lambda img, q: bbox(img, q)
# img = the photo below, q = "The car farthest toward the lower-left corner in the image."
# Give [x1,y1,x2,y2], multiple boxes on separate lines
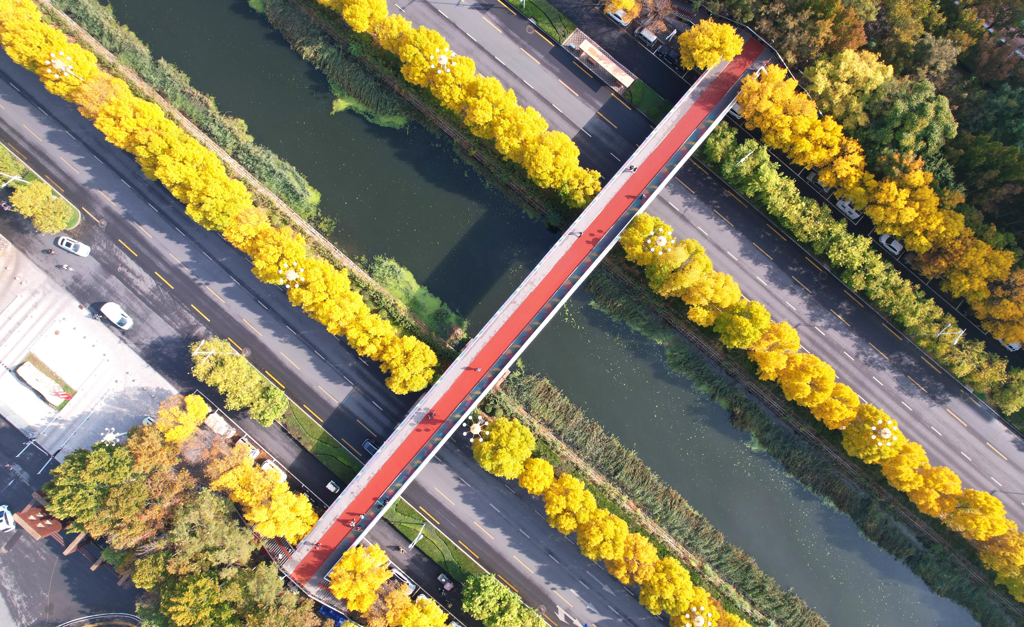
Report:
[0,498,22,537]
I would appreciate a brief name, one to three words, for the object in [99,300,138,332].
car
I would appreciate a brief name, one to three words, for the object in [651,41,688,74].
vehicle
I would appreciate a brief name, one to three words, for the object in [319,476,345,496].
vehicle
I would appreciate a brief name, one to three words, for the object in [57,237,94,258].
car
